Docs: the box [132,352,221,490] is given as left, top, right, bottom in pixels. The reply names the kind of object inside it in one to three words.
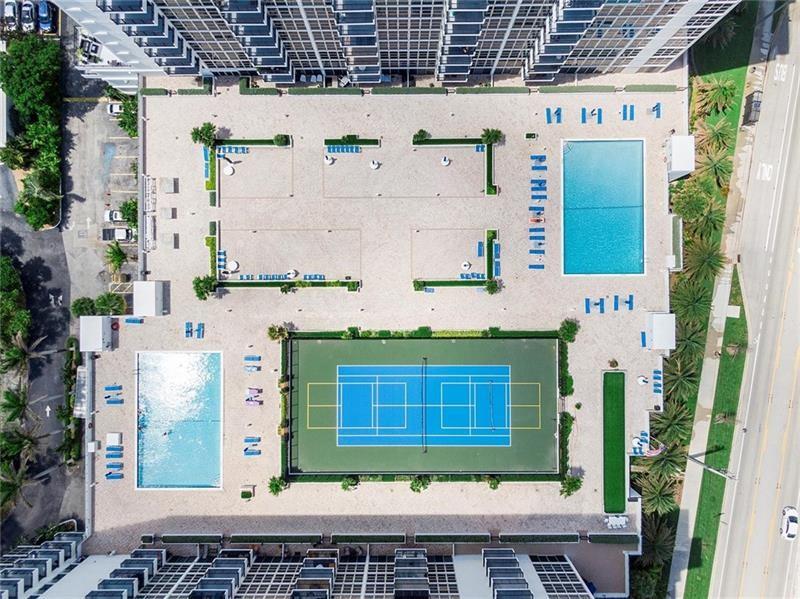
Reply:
swimming pool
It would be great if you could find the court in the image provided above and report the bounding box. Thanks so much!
[289,340,559,473]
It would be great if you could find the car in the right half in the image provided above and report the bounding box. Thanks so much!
[778,505,800,541]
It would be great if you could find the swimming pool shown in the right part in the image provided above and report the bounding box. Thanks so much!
[563,140,648,274]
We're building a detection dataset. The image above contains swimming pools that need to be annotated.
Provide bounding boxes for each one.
[563,140,648,274]
[132,352,221,490]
